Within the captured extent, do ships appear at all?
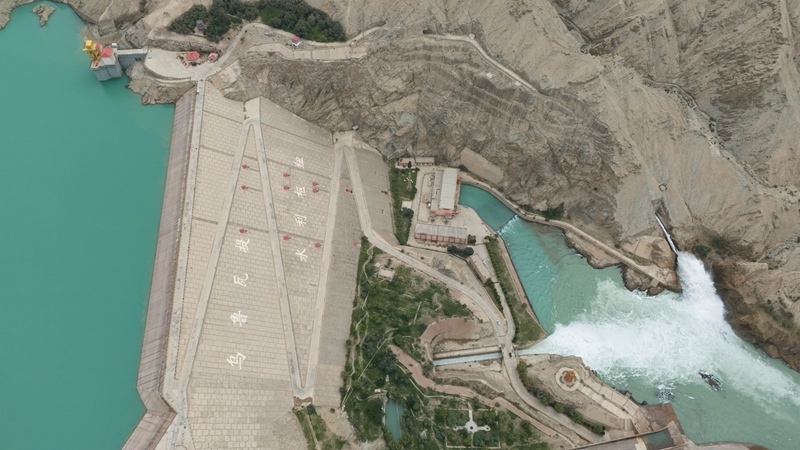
No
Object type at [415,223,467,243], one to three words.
building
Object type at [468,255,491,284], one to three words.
building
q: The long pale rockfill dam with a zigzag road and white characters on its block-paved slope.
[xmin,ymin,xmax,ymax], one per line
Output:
[123,80,398,450]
